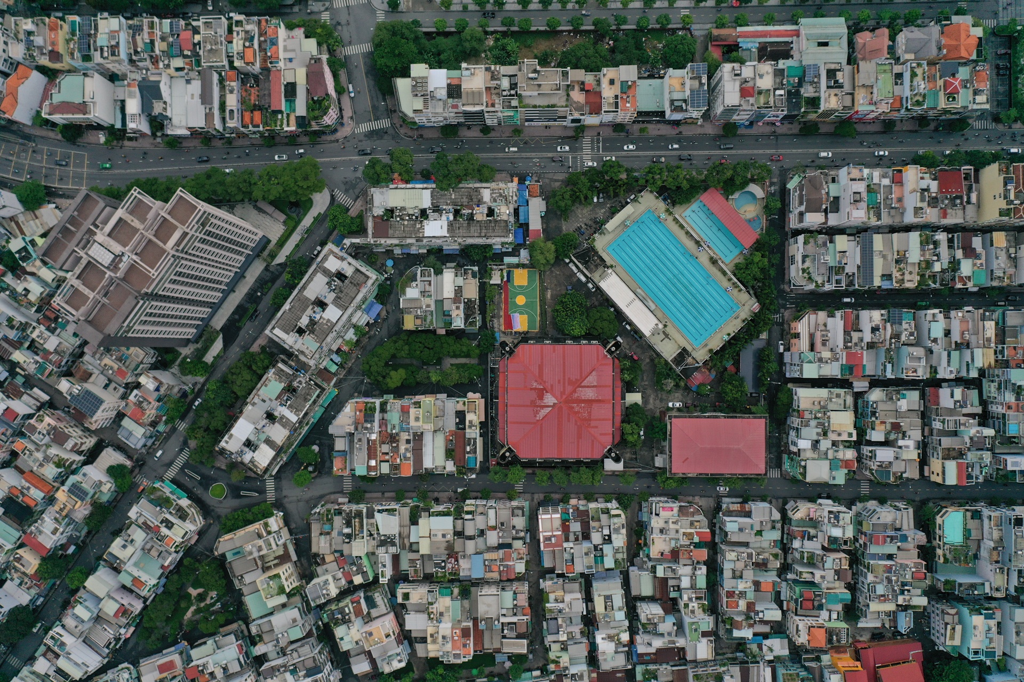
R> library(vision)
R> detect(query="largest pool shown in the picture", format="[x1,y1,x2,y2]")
[586,187,754,372]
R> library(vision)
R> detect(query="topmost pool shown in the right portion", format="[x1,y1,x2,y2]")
[717,184,766,233]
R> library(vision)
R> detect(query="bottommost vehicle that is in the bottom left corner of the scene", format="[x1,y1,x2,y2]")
[30,621,43,636]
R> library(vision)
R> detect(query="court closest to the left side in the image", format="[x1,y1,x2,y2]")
[504,268,539,331]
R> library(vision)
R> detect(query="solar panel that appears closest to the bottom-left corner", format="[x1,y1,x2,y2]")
[70,482,92,501]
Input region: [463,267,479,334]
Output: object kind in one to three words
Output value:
house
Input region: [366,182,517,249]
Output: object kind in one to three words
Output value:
building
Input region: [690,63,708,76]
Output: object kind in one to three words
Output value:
solar panel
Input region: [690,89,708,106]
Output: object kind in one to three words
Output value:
solar panel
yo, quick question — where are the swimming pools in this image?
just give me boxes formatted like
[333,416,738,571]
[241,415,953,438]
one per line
[676,190,760,289]
[586,187,754,372]
[717,184,766,233]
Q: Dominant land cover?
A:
buildings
